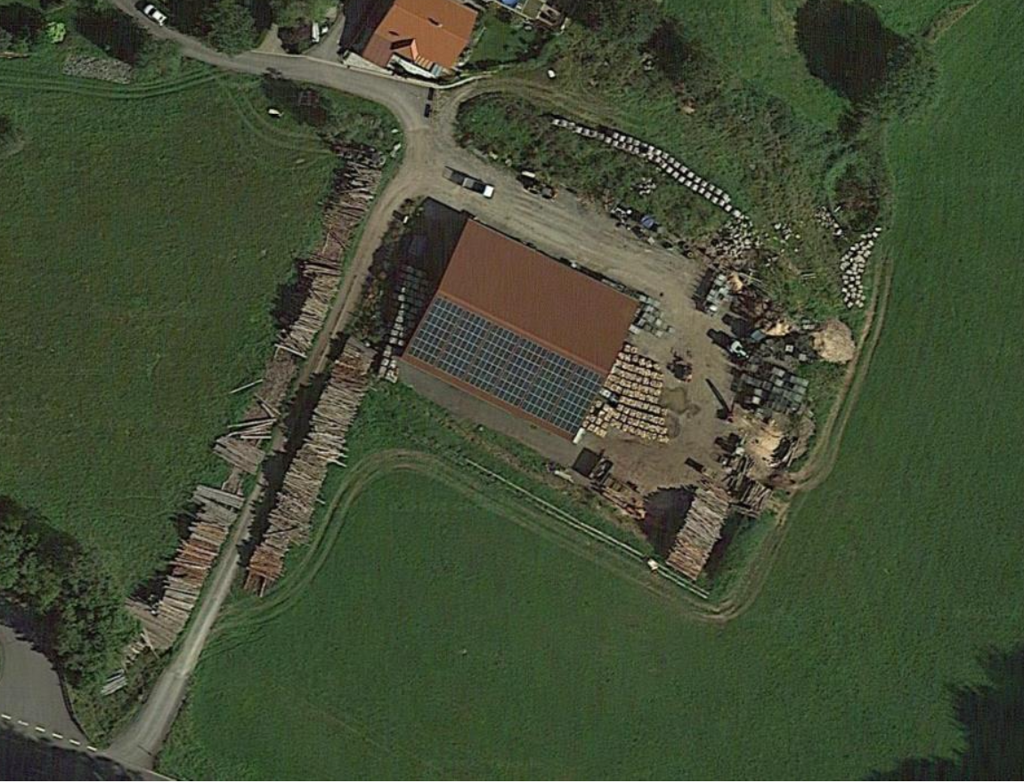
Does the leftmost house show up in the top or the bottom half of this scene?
top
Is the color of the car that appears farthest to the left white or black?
white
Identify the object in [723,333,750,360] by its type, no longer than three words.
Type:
work vehicle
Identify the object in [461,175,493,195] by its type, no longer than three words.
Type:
vehicle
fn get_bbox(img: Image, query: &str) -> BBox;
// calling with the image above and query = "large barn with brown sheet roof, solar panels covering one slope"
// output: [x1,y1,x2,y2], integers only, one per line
[402,218,639,440]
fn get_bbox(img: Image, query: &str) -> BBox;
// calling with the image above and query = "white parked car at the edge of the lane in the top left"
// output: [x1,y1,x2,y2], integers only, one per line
[142,4,168,25]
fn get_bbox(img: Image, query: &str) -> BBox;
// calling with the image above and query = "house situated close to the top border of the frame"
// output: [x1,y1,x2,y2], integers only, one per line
[369,0,478,68]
